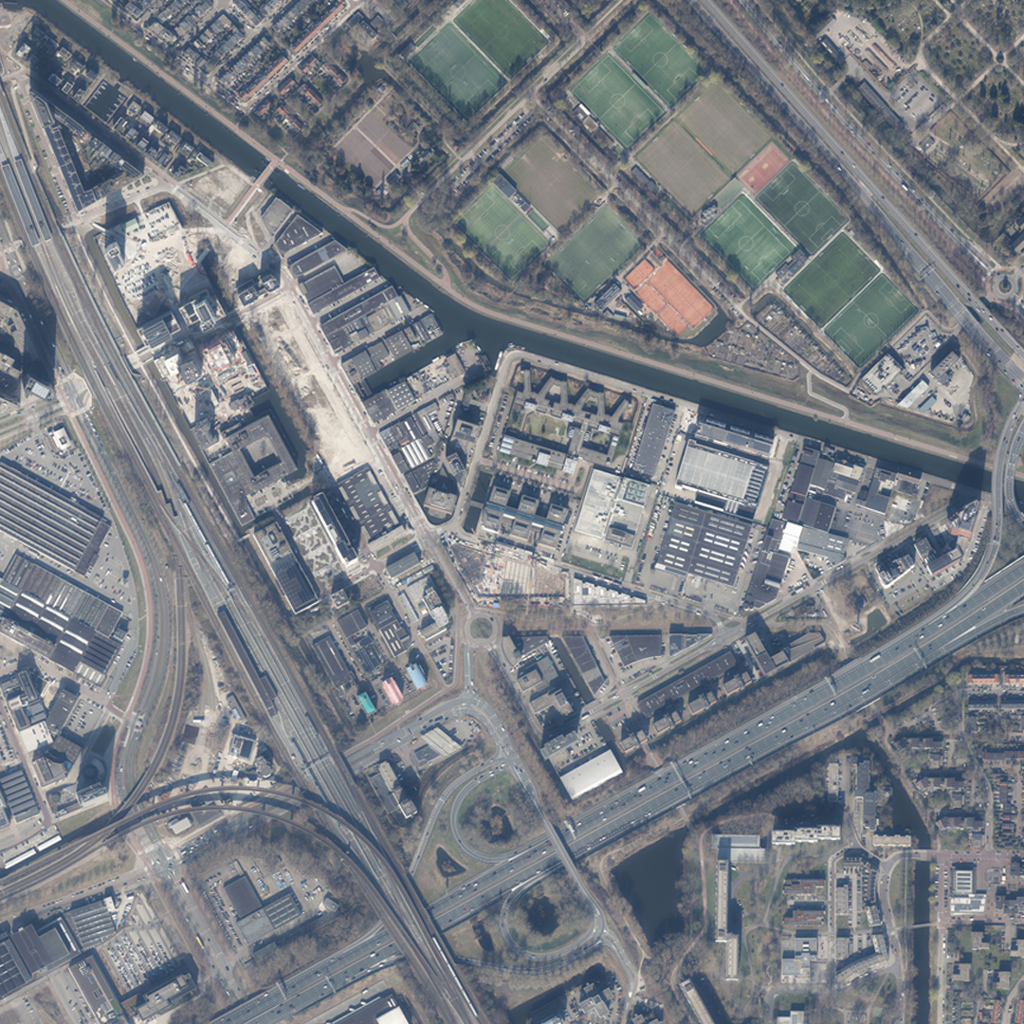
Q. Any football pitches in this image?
Yes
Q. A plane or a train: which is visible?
train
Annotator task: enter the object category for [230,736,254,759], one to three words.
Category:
building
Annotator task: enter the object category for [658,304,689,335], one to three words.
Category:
tennis court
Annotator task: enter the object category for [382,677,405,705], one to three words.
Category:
house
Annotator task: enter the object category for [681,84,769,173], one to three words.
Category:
soccer field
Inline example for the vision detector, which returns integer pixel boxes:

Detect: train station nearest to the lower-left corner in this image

[212,599,294,760]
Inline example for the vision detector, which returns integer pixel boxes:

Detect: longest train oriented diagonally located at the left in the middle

[185,507,232,585]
